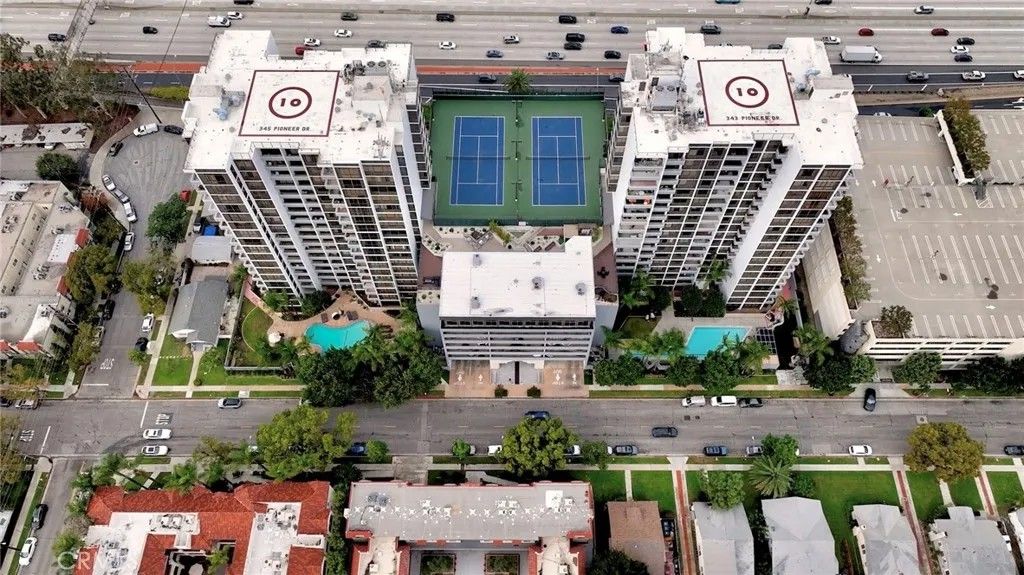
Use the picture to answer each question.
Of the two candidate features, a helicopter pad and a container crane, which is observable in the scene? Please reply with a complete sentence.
Visible in the photo is a helicopter pad.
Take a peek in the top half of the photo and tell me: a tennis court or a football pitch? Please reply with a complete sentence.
The feature located in the top half of the photo is a tennis court.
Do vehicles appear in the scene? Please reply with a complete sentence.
Yes, you can see a vehicle in this photo.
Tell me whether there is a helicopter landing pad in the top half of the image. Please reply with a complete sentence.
Yes, I can see a helicopter landing pad in the top half of the image.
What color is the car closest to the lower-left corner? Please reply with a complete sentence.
The car closest to the lower-left corner is white.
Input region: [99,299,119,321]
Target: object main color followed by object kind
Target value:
black car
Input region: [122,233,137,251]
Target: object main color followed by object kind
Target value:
gray car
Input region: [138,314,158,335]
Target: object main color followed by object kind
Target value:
white car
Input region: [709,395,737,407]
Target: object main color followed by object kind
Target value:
white vehicle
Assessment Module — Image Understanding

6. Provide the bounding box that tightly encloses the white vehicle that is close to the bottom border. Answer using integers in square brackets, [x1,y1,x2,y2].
[16,535,41,565]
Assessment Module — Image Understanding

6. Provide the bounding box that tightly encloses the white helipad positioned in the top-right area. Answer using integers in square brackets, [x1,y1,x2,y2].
[698,61,798,126]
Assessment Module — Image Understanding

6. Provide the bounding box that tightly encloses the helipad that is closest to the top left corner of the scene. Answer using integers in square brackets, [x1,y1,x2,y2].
[240,71,339,137]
